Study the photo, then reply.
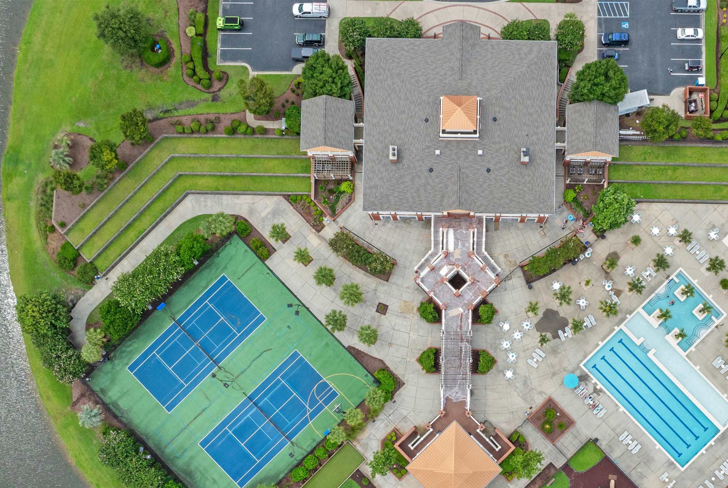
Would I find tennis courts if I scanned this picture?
Yes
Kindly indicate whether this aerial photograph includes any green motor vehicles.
Yes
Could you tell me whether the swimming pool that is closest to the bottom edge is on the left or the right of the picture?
right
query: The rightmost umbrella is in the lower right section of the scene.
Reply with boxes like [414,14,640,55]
[564,374,578,389]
